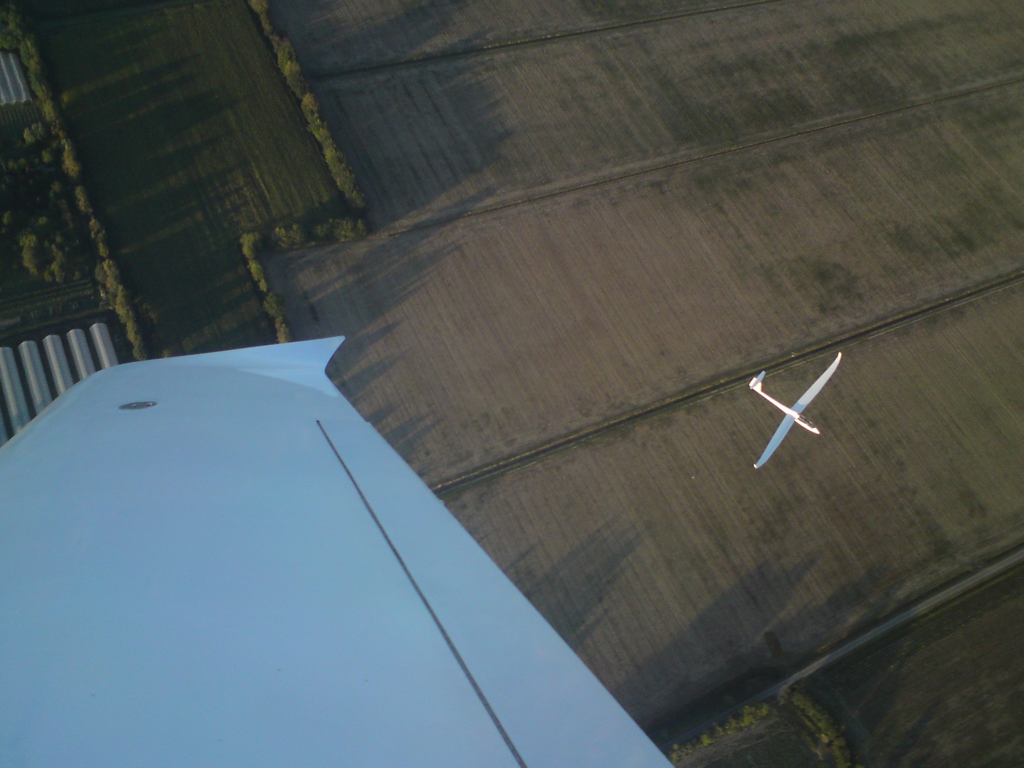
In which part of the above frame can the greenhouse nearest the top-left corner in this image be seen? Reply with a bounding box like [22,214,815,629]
[0,51,31,109]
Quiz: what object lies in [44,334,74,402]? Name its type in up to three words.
greenhouse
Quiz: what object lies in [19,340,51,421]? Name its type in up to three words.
greenhouse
